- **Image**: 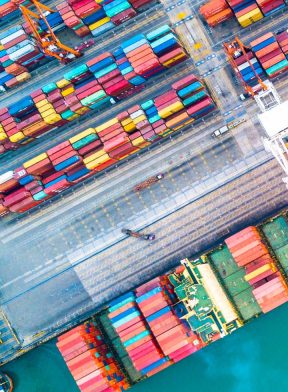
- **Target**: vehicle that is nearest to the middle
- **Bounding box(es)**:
[131,172,161,192]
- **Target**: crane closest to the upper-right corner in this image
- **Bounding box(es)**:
[218,28,270,100]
